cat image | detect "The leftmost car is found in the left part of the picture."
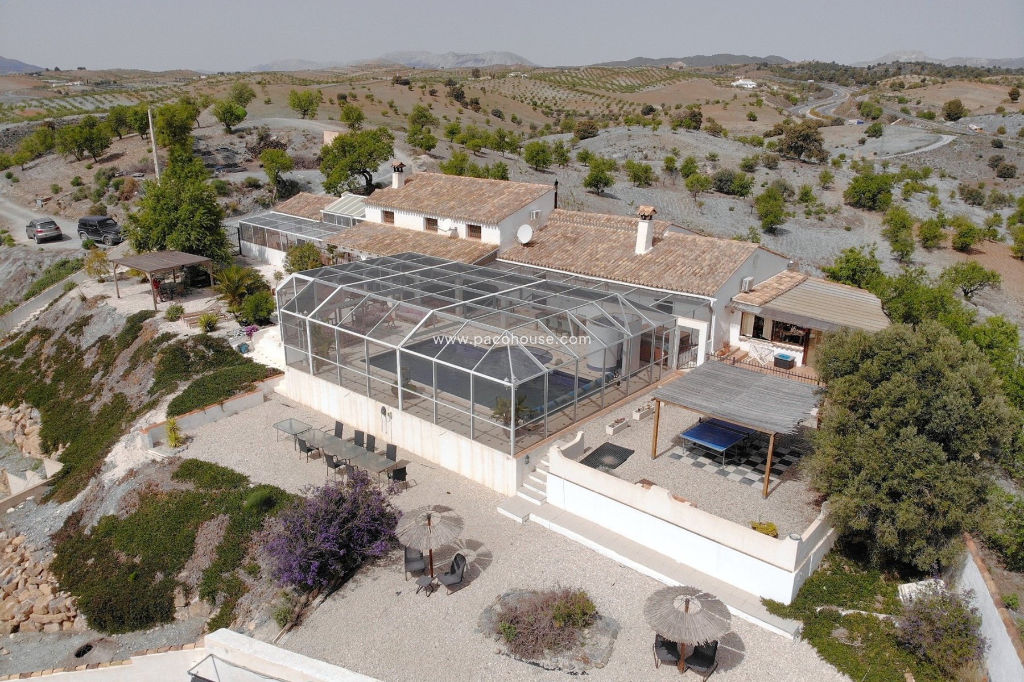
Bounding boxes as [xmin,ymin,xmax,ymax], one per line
[8,211,68,241]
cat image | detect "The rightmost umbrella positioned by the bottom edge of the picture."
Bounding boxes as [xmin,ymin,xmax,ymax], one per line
[639,585,735,673]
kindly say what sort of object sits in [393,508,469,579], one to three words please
umbrella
